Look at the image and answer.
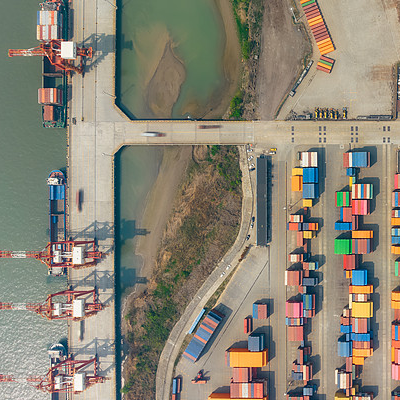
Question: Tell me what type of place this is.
port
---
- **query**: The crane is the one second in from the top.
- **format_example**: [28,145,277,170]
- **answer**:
[0,232,96,270]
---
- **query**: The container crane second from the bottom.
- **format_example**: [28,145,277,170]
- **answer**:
[0,280,96,322]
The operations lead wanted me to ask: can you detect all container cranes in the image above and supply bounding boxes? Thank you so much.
[11,39,90,79]
[0,232,96,270]
[0,348,96,395]
[0,280,96,322]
